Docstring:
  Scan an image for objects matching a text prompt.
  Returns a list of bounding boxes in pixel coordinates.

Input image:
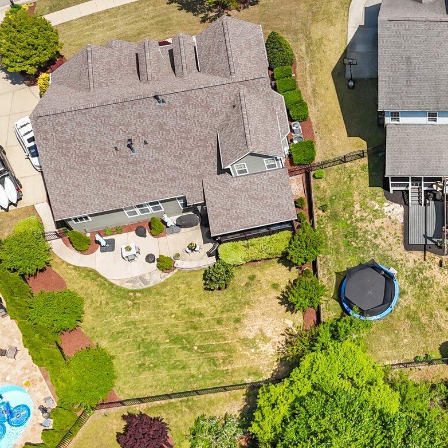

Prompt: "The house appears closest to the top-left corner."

[33,15,298,259]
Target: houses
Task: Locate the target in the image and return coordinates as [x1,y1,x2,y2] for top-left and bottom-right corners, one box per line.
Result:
[378,0,448,206]
[33,15,298,259]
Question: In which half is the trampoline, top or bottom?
bottom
